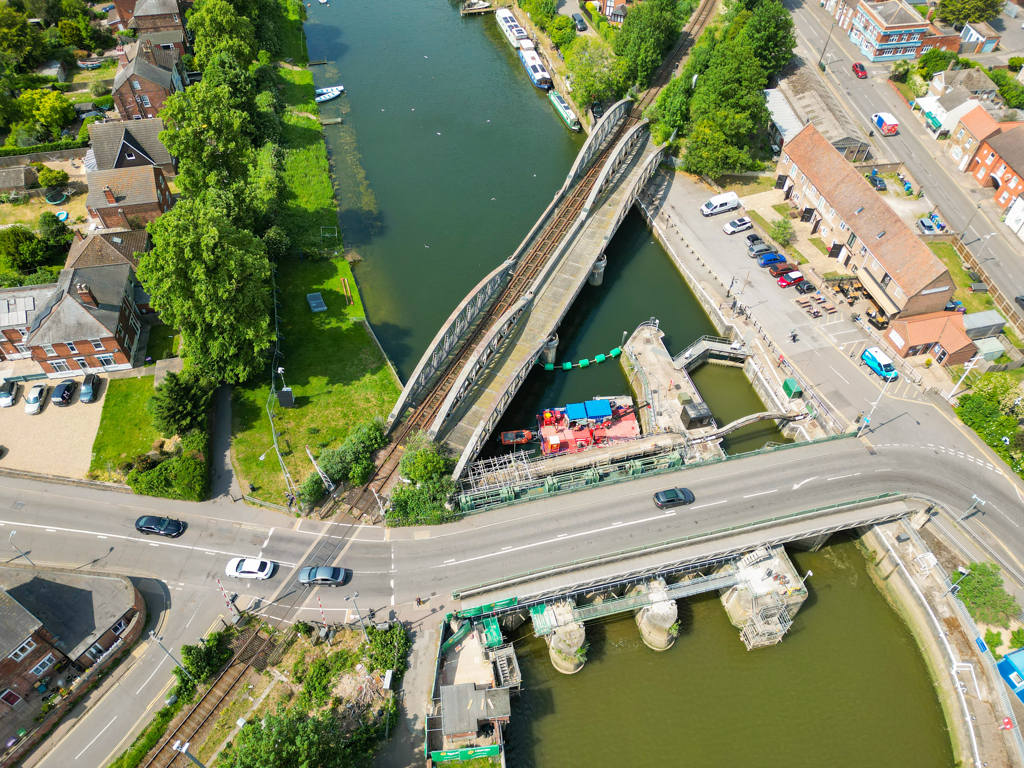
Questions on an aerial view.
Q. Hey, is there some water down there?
Yes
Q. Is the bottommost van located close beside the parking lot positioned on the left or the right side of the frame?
right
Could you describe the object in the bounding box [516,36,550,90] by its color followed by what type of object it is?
white boat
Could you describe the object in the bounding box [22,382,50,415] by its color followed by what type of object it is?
white car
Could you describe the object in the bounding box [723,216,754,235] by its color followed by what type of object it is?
white car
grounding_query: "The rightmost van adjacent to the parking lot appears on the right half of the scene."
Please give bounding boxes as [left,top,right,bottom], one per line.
[860,344,899,381]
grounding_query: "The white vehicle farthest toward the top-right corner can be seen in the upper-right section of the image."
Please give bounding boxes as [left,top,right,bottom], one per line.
[869,110,903,135]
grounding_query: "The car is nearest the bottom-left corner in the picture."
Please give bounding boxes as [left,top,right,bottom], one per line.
[133,516,185,540]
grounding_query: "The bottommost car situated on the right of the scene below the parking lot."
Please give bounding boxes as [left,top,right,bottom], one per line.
[653,485,694,509]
